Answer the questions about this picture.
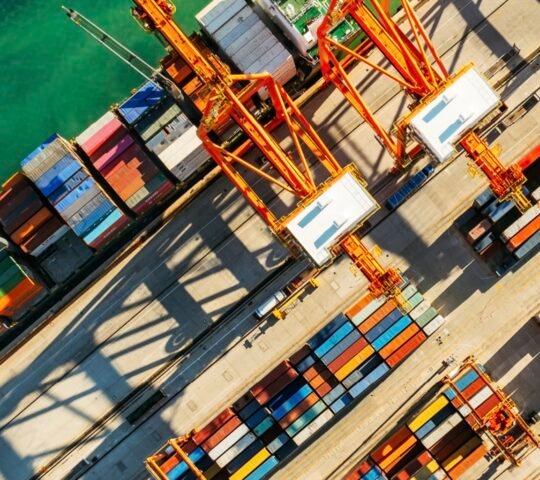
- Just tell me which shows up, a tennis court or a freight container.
freight container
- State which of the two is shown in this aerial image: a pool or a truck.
truck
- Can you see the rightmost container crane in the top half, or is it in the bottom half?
top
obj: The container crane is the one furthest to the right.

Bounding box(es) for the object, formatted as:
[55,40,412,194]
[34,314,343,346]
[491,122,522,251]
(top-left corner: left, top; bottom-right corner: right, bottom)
[310,0,540,220]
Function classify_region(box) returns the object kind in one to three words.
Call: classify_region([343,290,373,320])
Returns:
shipping container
